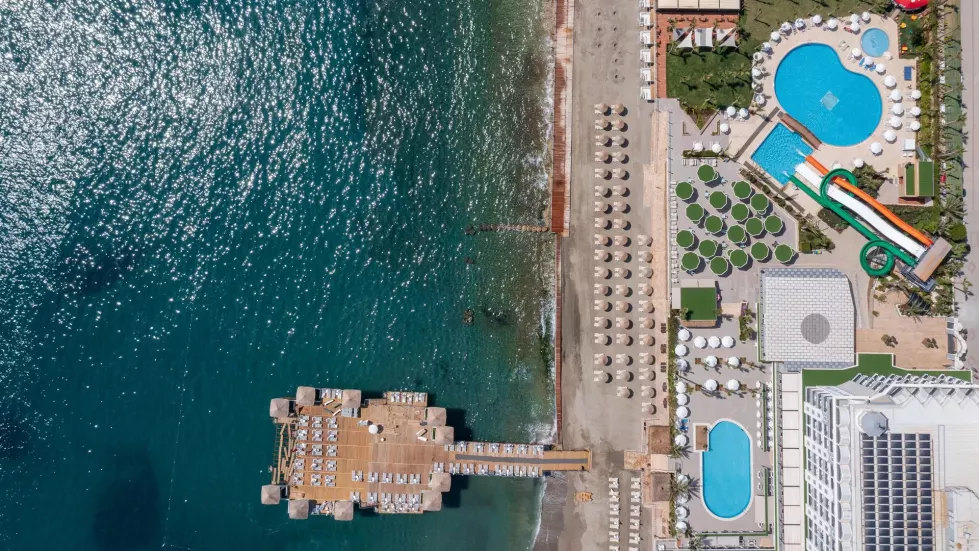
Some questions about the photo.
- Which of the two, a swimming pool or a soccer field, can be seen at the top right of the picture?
swimming pool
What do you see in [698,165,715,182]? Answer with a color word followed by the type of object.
green umbrella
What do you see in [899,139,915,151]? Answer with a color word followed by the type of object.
white gazebo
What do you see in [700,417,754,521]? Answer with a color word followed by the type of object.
blue swimming pool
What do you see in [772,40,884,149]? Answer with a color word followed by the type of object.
blue swimming pool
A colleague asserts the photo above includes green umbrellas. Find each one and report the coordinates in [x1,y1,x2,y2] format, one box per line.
[746,218,763,235]
[686,204,704,221]
[733,181,751,198]
[774,244,793,262]
[764,215,782,232]
[675,182,692,199]
[751,242,769,259]
[698,165,715,182]
[751,193,768,210]
[709,191,727,209]
[731,203,749,220]
[728,226,745,243]
[682,252,699,269]
[699,240,716,257]
[706,215,723,232]
[729,250,747,267]
[710,256,728,275]
[676,230,693,247]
